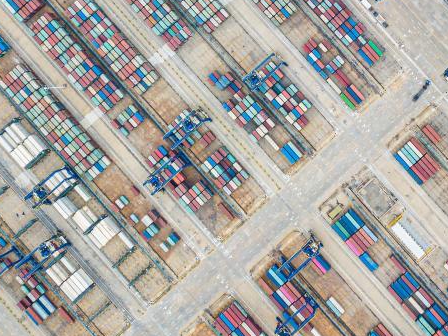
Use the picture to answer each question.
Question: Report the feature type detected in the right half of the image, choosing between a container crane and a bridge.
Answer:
container crane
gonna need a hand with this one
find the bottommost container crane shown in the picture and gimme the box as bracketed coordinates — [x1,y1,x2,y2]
[269,288,318,336]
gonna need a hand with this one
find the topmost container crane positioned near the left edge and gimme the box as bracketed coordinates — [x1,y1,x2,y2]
[19,163,82,217]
